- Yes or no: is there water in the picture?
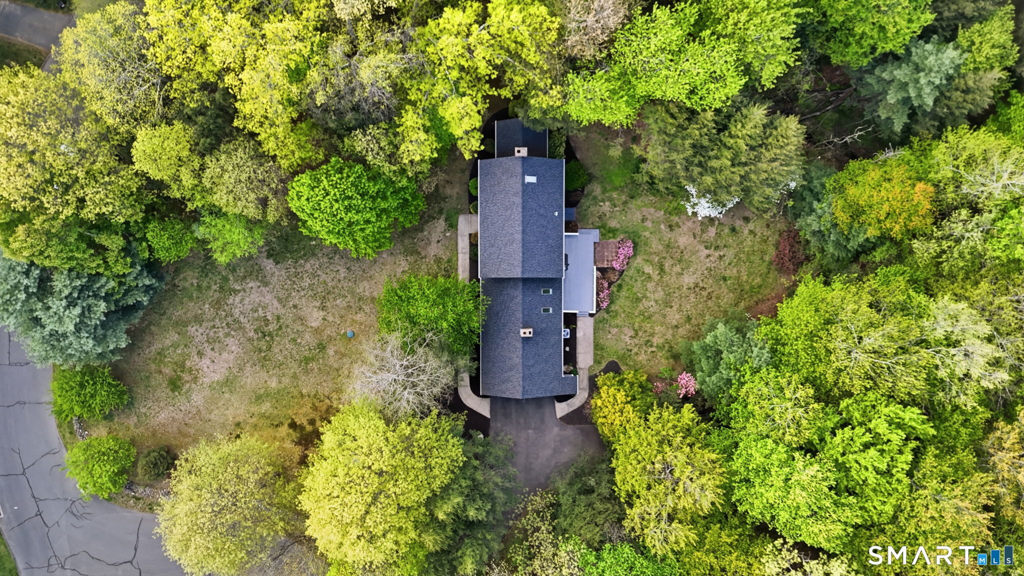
No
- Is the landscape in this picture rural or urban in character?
rural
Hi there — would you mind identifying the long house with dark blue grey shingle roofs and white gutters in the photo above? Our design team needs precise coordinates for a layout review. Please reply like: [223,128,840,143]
[477,118,579,399]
